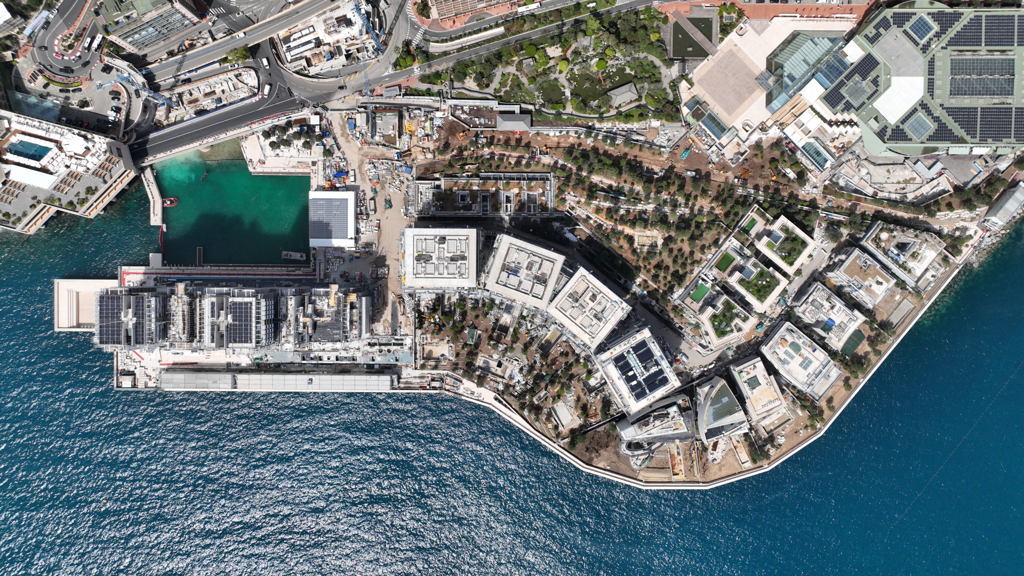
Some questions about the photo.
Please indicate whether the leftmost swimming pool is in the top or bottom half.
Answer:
top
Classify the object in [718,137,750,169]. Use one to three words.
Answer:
shed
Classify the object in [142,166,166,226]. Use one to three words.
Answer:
pier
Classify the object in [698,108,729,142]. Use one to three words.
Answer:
building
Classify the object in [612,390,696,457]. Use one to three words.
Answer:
house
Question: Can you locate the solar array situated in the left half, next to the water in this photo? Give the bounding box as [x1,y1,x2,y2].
[310,198,348,239]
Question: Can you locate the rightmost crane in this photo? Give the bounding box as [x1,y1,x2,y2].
[351,0,387,147]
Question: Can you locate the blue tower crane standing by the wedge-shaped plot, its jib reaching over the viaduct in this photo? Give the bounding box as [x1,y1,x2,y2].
[91,32,251,106]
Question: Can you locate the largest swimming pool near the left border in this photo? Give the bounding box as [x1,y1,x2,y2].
[4,140,50,161]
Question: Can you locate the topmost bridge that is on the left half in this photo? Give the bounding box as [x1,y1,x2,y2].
[139,0,349,83]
